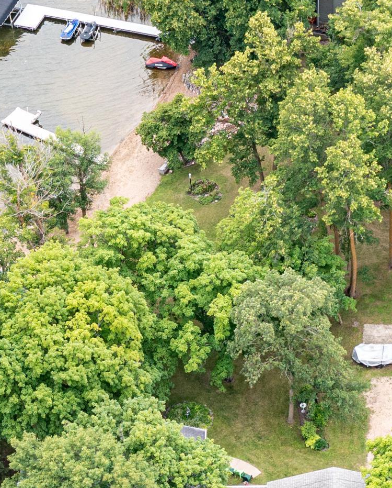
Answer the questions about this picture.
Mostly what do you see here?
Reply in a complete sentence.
What you mostly see from above here is trees.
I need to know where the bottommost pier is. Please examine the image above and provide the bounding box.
[1,106,68,150]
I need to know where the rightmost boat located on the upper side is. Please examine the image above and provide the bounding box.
[147,57,177,70]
